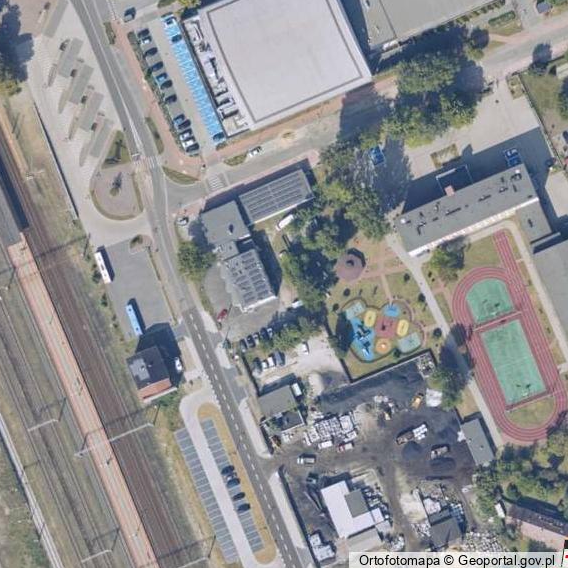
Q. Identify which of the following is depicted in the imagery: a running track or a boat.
running track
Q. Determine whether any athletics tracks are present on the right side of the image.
Yes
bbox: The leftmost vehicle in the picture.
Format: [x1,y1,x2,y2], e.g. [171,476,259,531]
[94,250,112,284]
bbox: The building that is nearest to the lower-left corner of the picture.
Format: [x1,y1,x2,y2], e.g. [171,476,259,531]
[125,346,177,404]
